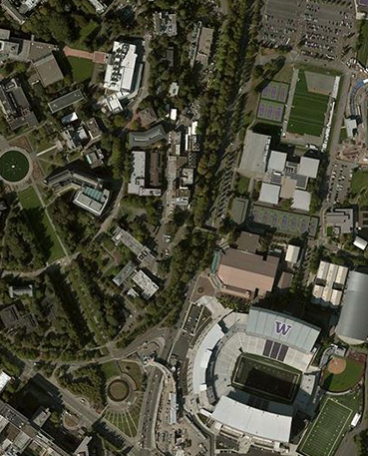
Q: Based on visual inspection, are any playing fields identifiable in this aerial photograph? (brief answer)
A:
Yes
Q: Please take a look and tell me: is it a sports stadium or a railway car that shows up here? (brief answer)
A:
sports stadium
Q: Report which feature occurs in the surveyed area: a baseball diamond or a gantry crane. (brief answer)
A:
baseball diamond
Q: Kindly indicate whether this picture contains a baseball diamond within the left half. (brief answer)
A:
No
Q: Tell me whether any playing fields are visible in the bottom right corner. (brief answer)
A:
Yes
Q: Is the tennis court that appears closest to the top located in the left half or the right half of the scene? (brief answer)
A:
right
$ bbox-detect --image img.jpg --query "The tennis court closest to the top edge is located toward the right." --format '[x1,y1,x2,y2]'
[261,81,289,103]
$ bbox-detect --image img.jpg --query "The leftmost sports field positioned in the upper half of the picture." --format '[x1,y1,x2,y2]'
[286,69,337,136]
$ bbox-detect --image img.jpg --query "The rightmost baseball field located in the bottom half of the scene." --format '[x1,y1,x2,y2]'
[329,353,367,393]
